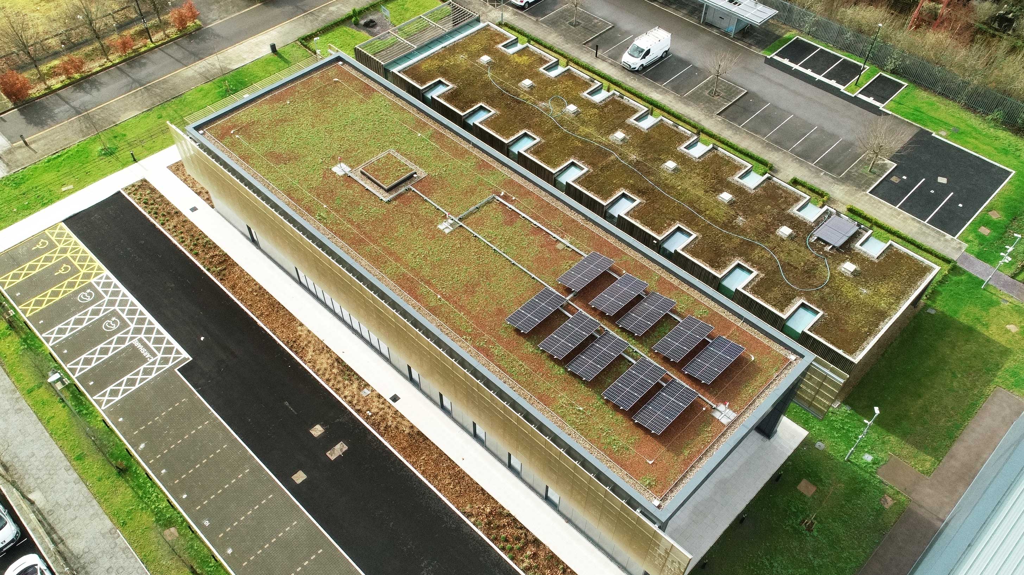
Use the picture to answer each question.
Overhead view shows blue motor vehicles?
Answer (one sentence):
No, this view has no blue motor vehicle in it.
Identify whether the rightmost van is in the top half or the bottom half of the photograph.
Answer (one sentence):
The top half of the photo is where the rightmost van is.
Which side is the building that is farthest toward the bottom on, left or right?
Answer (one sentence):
The building that is farthest toward the bottom sits on the right side.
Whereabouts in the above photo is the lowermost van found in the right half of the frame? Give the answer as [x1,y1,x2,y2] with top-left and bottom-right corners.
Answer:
[622,24,672,70]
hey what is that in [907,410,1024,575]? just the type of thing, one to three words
building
